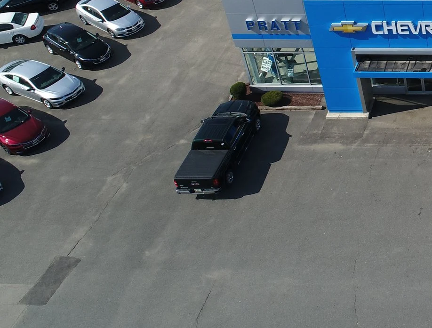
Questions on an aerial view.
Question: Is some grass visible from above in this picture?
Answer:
No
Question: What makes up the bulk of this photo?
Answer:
paved ground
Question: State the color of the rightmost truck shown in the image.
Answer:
black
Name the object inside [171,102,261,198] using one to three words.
truck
